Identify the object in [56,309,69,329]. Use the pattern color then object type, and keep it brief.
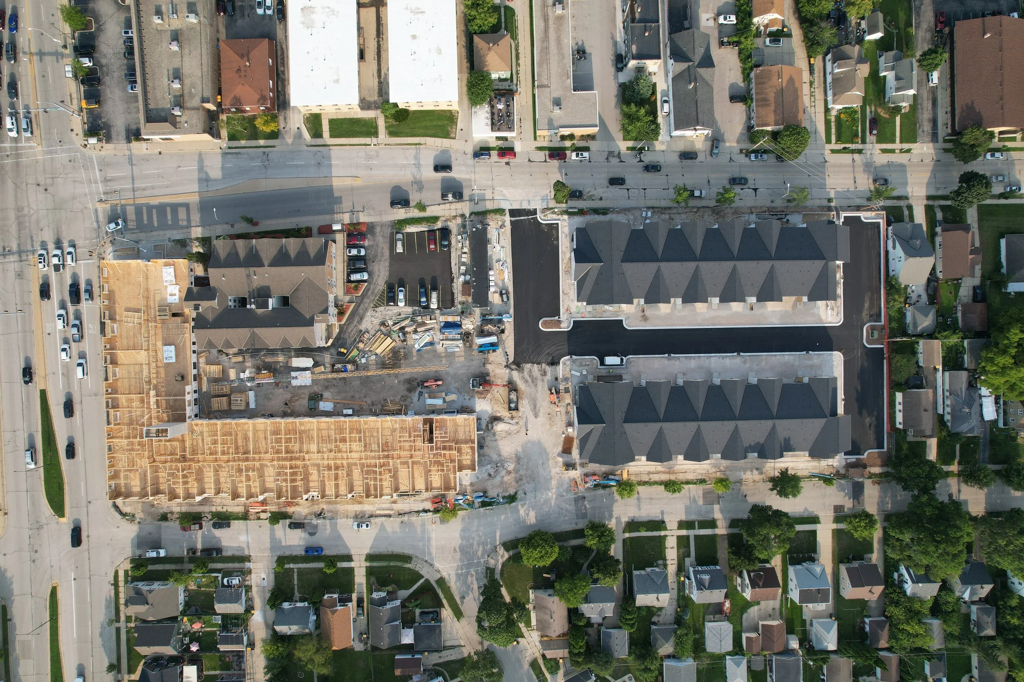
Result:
white vehicle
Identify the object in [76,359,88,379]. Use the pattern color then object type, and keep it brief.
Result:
white vehicle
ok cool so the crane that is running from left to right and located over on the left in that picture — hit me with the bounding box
[211,361,448,388]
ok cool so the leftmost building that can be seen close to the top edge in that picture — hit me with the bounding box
[130,0,218,142]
